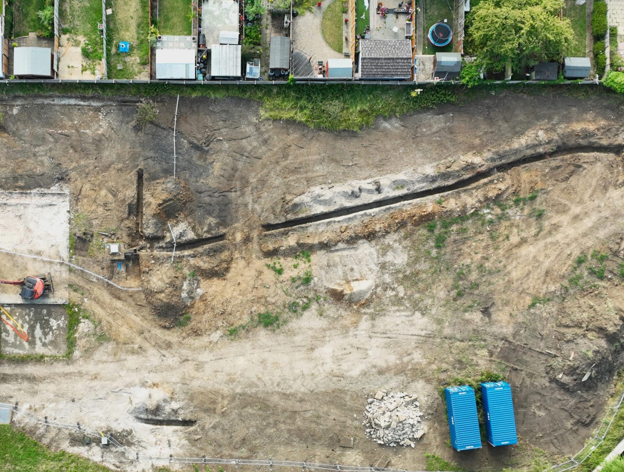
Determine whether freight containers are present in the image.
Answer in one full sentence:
Yes, a freight container can be made out from above.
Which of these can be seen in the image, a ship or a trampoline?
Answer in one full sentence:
Visible in the photo is a trampoline.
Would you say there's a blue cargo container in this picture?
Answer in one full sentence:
Yes, you can see a blue cargo container in this photo.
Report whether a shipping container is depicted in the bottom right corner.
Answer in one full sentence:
Yes, you'll find a shipping container in the bottom right corner.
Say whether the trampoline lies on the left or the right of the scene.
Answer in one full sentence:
It is on the right.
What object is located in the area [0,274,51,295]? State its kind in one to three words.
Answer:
work vehicle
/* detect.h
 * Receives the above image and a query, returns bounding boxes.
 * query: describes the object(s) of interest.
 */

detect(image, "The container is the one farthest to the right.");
[479,382,517,446]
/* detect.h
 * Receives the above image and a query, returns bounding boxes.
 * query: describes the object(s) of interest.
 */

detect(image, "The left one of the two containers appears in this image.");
[444,385,482,450]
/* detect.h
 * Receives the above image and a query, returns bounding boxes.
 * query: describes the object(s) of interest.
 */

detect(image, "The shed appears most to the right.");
[558,57,594,79]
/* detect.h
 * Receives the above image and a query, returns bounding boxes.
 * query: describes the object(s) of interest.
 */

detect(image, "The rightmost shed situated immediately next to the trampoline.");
[431,53,463,76]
